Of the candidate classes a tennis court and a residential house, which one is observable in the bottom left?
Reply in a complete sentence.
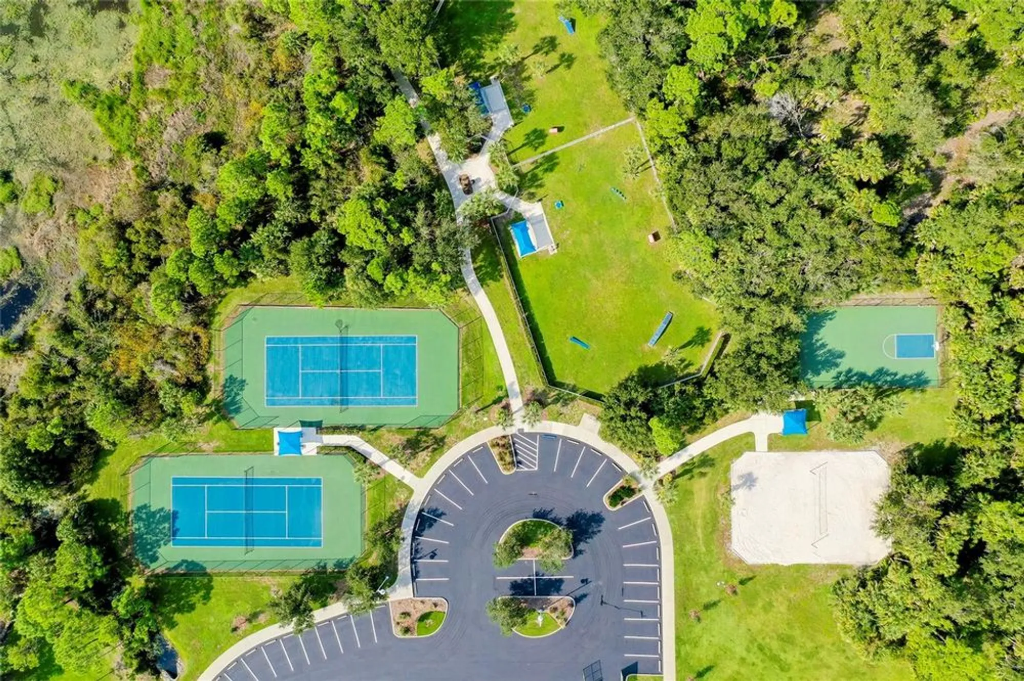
What appears in the bottom left is a tennis court.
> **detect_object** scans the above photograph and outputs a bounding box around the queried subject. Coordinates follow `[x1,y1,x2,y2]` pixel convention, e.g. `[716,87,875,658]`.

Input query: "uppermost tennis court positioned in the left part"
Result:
[224,307,458,428]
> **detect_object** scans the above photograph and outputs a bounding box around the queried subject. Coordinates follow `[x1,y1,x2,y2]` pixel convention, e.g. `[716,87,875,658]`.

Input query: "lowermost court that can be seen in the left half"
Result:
[132,455,362,572]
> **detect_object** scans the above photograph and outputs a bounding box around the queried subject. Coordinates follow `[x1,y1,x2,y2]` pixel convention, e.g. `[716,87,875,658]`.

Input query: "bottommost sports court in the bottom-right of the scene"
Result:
[730,450,891,566]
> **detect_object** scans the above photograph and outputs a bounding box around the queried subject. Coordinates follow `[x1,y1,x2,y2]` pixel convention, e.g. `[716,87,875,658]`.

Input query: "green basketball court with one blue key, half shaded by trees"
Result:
[797,306,939,388]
